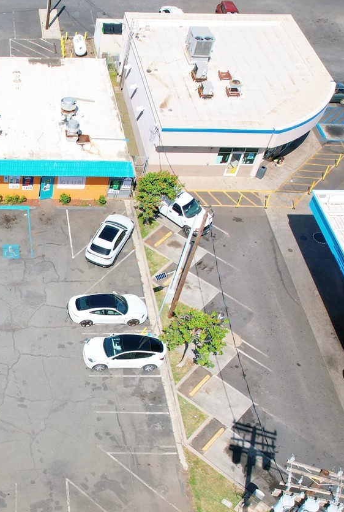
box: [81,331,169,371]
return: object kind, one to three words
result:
car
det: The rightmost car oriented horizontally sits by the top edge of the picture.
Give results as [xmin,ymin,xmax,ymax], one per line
[211,2,240,15]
